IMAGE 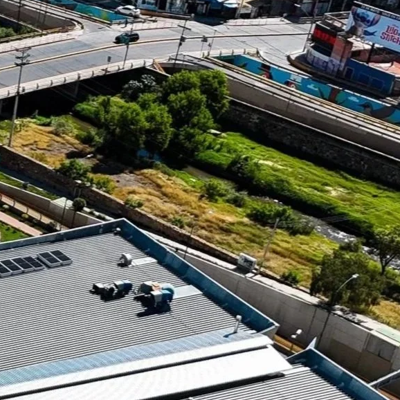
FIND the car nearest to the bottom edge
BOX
[112,28,141,47]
